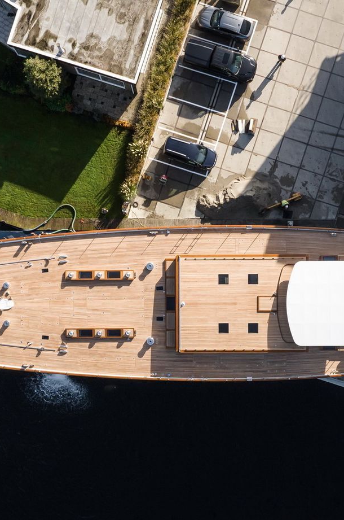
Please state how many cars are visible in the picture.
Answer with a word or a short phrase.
3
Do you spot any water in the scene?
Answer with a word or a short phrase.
Yes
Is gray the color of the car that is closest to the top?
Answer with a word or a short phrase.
Yes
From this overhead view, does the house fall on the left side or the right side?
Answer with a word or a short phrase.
left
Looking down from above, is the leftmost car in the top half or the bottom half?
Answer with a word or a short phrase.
top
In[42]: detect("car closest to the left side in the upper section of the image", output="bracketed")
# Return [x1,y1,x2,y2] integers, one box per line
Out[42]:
[161,135,220,171]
